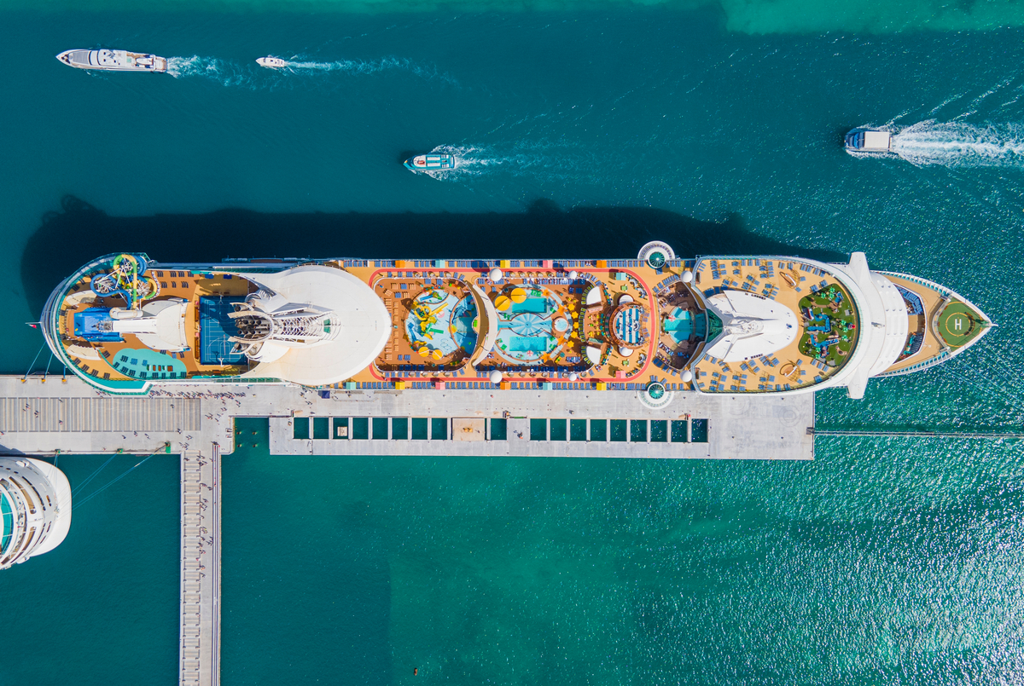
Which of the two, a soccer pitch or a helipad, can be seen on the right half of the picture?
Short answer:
helipad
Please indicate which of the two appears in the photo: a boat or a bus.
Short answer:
boat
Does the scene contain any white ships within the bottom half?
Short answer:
Yes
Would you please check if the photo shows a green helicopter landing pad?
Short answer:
Yes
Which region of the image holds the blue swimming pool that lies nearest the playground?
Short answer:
center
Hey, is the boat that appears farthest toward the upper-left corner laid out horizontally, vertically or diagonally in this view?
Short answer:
horizontally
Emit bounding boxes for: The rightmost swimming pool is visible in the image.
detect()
[664,301,705,350]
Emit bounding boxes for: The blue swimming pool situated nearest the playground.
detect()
[451,294,477,353]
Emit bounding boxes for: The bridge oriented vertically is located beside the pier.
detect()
[178,447,222,686]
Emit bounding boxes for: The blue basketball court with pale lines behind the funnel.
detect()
[195,295,249,365]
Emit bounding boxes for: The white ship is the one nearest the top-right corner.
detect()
[843,128,894,151]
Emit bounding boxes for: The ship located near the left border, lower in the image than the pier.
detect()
[0,458,71,564]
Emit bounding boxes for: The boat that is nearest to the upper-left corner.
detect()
[55,47,168,72]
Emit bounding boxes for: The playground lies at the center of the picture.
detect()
[405,287,461,359]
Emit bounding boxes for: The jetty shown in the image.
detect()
[0,375,814,461]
